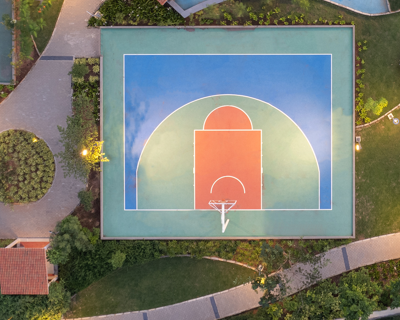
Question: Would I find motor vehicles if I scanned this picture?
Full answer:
No, I can see no motor vehicle in this picture.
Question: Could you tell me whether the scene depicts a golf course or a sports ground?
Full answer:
What you see here is a sports ground.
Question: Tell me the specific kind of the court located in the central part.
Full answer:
The court located in the central part appears to be a basketball court.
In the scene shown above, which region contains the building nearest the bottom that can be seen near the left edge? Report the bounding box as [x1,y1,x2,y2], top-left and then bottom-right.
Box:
[0,237,58,295]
